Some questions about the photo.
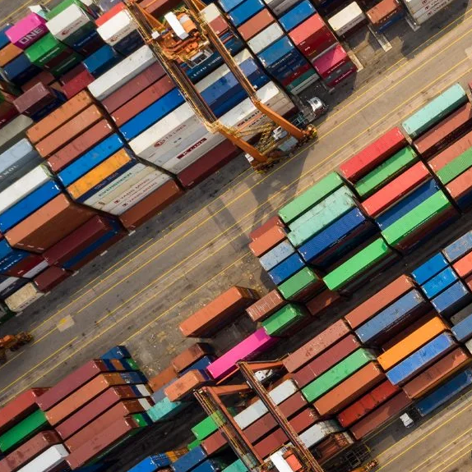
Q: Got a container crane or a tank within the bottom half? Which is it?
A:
container crane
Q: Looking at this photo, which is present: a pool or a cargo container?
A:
cargo container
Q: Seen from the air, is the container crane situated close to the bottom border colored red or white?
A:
red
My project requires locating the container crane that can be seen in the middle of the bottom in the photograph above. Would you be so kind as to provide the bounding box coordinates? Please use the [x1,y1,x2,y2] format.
[186,345,378,472]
